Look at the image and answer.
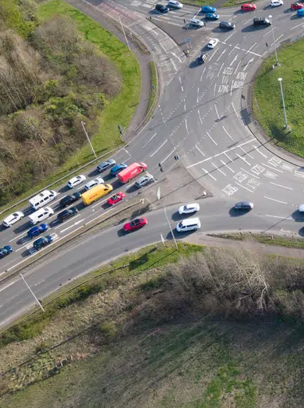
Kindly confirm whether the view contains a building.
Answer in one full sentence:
No, no building can be seen from above.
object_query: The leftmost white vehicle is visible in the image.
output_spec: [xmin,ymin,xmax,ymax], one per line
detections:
[2,211,26,228]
